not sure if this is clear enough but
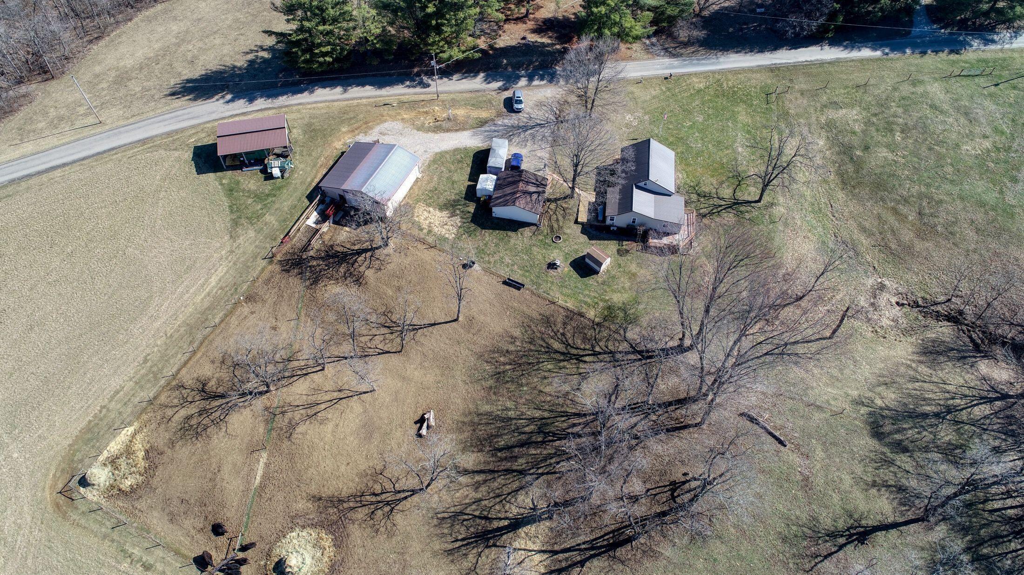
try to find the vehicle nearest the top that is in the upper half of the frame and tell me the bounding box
[512,90,524,109]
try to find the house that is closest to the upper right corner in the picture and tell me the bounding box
[594,138,697,251]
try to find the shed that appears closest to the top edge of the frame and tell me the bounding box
[216,113,291,169]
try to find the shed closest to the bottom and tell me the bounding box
[585,245,612,271]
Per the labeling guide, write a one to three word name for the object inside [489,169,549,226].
building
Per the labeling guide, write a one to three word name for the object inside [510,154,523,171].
vehicle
